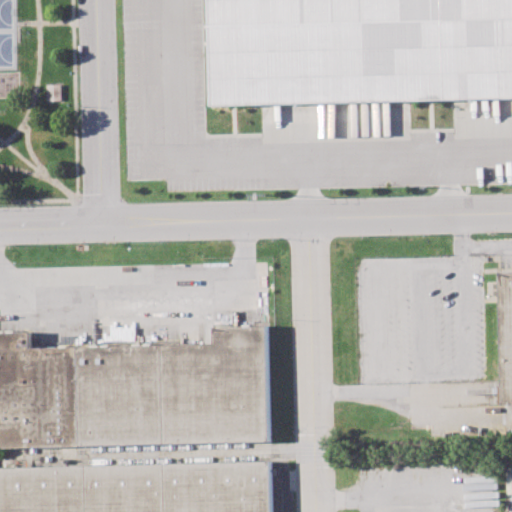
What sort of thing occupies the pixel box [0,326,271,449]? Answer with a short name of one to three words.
building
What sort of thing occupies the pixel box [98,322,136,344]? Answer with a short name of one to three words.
building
